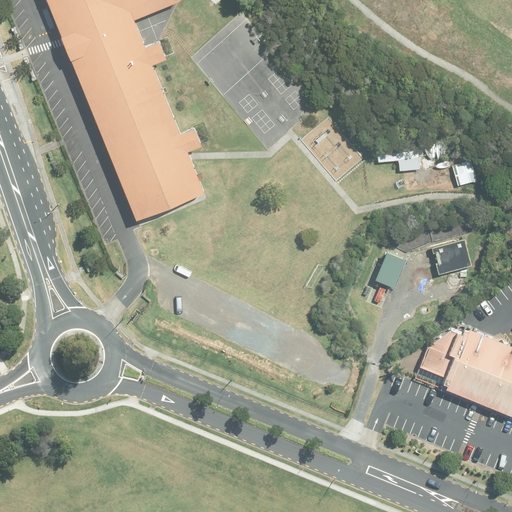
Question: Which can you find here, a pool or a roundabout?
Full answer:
The image shows a roundabout.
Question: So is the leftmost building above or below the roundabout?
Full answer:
Relative to the roundabout, the leftmost building lies above it.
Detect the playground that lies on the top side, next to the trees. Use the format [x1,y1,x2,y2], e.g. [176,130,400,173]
[302,118,362,181]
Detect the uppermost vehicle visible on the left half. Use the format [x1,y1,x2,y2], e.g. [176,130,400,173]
[174,265,191,278]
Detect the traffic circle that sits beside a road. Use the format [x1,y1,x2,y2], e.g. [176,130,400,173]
[50,328,106,384]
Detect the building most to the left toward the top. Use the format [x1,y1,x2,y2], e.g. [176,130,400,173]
[46,0,204,222]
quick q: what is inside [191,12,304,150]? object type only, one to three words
sports court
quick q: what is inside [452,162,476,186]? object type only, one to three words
shed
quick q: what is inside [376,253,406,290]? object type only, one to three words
shed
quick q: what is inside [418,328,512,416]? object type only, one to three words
building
